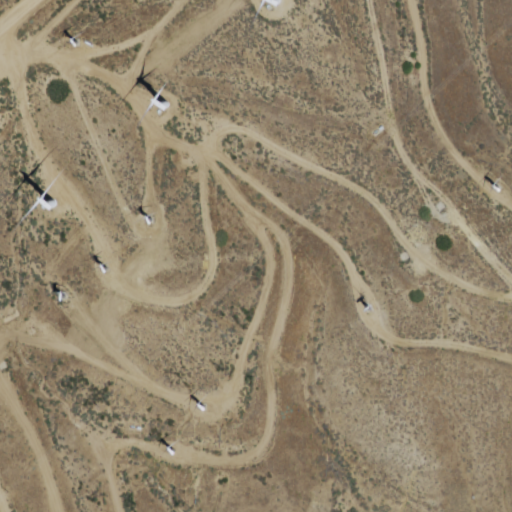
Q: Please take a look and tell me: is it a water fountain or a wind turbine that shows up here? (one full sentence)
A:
Of the two, only a wind turbine appears.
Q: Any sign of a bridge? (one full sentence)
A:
No, the frame has no bridge in it.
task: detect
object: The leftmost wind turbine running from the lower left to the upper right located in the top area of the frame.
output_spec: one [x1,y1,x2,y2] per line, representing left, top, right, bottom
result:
[23,169,64,222]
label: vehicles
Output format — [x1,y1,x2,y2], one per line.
[84,40,94,47]
[130,424,142,431]
[373,124,386,134]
